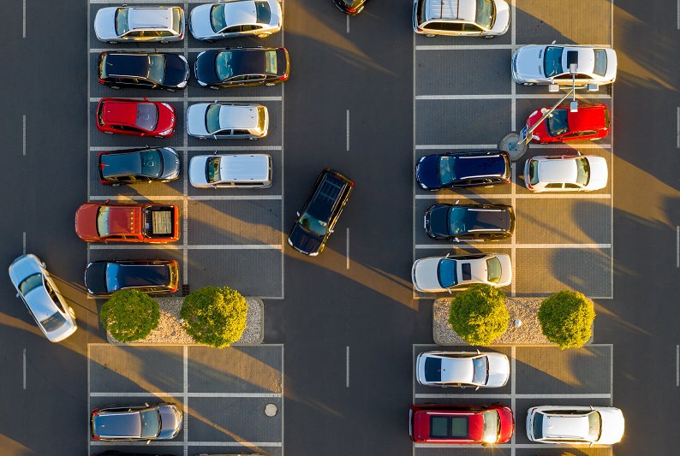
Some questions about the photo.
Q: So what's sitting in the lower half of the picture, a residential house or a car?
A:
car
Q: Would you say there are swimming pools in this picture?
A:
No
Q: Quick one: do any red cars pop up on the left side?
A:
Yes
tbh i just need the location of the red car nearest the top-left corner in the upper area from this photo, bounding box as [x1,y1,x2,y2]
[94,91,178,137]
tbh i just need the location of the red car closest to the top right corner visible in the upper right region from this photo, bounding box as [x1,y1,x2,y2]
[526,99,612,145]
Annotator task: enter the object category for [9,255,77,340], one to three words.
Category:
car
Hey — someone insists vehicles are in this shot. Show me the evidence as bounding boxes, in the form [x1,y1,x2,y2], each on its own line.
[412,251,513,295]
[290,170,353,254]
[190,0,282,44]
[96,144,181,189]
[413,0,510,41]
[84,255,179,297]
[511,40,619,87]
[526,404,625,448]
[526,99,612,145]
[424,199,516,244]
[96,46,191,92]
[524,152,608,195]
[94,91,178,137]
[187,98,268,141]
[89,403,184,446]
[74,199,179,245]
[415,146,512,192]
[408,403,515,448]
[194,44,289,91]
[94,0,184,46]
[335,0,376,18]
[189,149,272,192]
[416,347,510,391]
[9,255,77,340]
